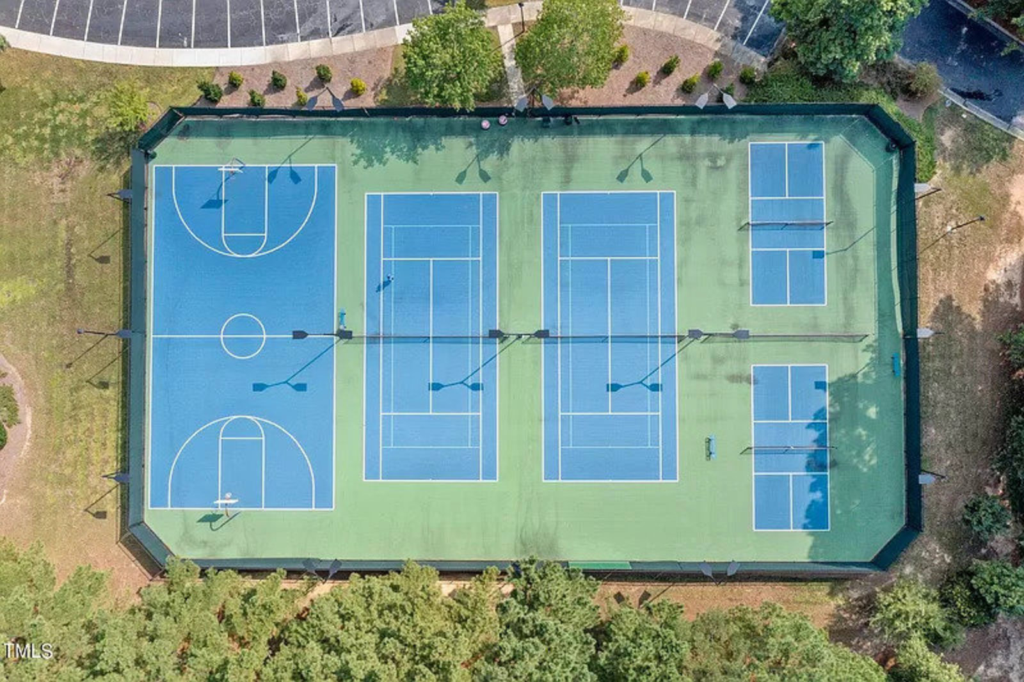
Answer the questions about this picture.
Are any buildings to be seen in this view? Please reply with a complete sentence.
No, this view has no building in it.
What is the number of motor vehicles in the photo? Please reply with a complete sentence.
There are no motor vehicles in this view.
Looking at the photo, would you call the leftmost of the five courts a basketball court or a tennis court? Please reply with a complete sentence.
The leftmost of the five courts in the image is a basketball court.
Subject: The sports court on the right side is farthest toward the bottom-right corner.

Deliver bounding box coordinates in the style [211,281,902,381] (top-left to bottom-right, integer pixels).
[752,365,830,531]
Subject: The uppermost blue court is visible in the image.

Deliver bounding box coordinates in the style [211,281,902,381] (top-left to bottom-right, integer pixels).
[749,142,826,305]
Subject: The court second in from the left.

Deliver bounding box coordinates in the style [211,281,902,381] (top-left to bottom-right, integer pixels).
[364,192,498,481]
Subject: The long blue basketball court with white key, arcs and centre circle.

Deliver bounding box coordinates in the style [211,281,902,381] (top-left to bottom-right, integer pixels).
[149,164,336,510]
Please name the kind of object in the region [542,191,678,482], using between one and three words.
tennis court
